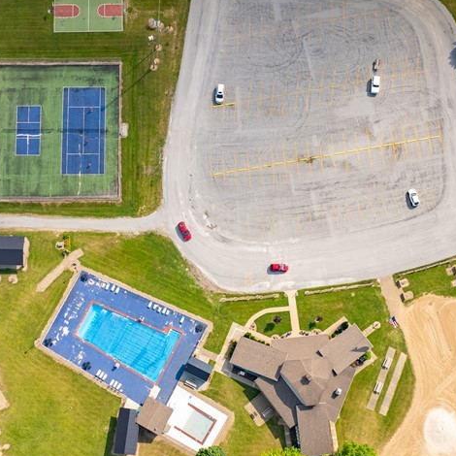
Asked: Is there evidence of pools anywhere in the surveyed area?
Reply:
Yes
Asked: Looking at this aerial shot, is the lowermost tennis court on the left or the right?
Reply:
left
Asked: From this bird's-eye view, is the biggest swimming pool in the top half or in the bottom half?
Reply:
bottom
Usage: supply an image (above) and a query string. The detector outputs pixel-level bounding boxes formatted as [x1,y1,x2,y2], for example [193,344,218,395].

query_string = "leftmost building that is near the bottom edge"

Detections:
[113,408,140,456]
